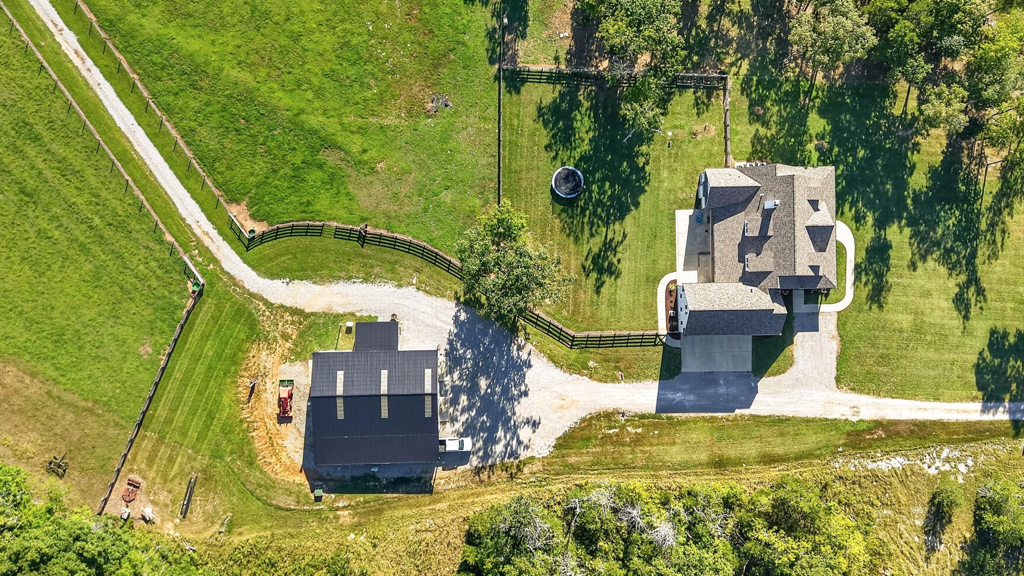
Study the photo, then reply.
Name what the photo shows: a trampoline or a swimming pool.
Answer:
trampoline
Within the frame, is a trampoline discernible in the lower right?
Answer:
No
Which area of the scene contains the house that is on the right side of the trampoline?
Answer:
right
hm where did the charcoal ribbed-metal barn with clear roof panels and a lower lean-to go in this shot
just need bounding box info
[310,323,440,465]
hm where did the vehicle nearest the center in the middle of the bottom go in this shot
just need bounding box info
[439,437,472,454]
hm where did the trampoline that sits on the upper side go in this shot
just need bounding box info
[551,166,584,199]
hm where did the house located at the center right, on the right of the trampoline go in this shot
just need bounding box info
[677,164,836,335]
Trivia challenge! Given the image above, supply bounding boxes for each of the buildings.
[310,323,440,465]
[677,164,836,335]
